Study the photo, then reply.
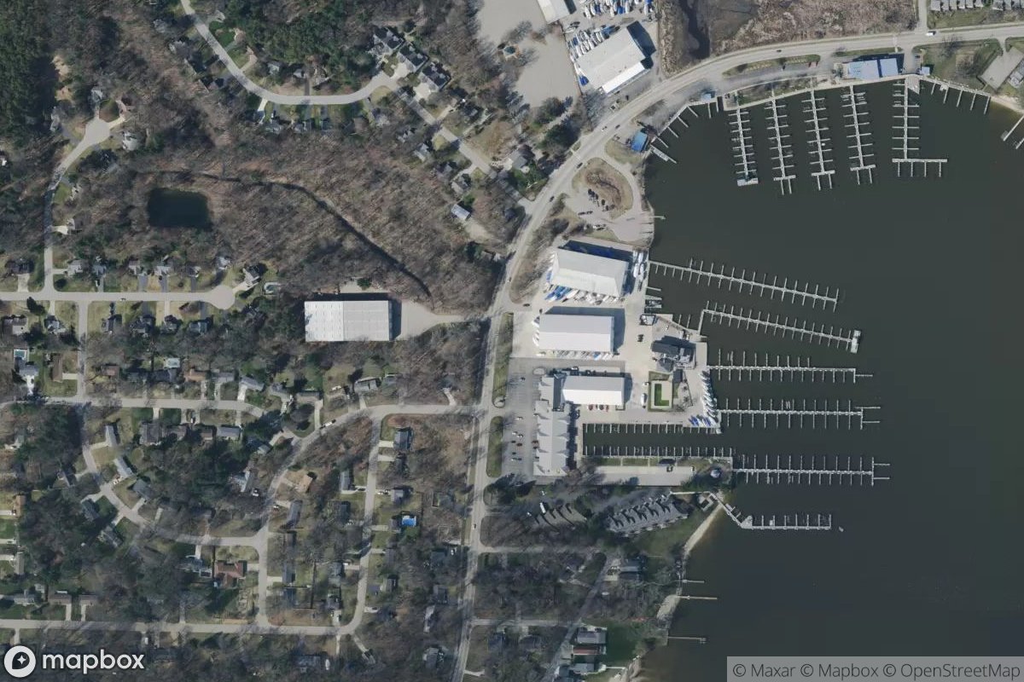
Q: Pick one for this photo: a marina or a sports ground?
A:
marina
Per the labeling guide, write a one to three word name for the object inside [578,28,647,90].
building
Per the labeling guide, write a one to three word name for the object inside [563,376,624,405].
shed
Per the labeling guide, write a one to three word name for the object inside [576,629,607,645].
house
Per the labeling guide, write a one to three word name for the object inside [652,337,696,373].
building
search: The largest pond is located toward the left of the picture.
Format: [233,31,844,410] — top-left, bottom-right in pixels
[147,187,212,229]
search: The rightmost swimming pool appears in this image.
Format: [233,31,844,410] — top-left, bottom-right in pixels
[652,381,672,408]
